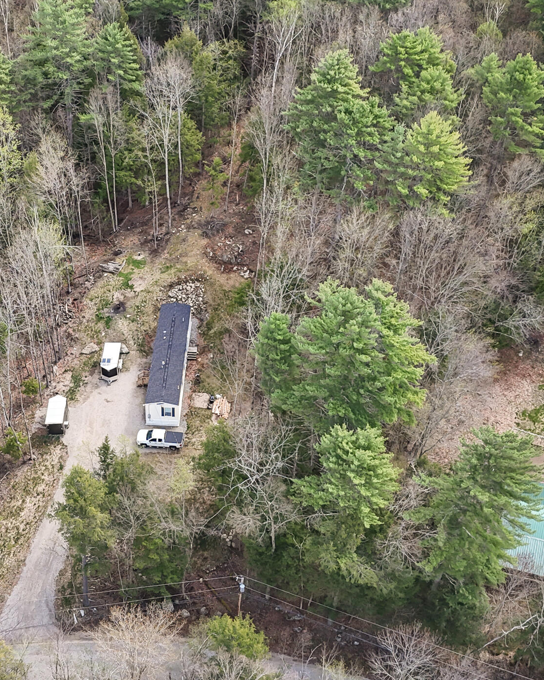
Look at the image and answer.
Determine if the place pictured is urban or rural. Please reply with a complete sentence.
The area shown here is rural.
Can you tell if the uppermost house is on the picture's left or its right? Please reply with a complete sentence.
The uppermost house appears in the left half of the scene.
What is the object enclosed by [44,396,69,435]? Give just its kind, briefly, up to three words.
trailer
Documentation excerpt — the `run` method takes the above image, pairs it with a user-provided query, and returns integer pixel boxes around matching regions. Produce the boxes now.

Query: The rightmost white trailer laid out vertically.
[101,342,125,391]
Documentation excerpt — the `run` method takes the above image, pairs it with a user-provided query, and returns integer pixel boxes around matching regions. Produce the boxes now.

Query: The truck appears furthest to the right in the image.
[135,427,187,450]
